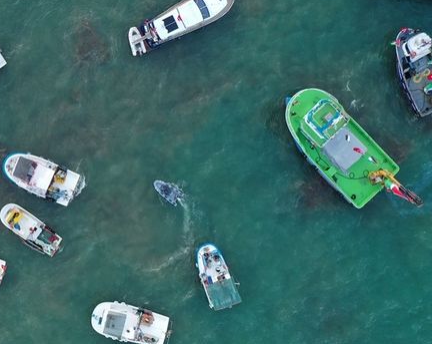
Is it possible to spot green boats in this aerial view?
Yes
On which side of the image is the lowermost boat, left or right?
left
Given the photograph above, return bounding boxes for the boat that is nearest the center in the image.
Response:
[154,180,184,205]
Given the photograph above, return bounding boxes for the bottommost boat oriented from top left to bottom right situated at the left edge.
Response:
[0,205,64,257]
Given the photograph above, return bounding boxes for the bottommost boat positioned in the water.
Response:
[92,300,171,344]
